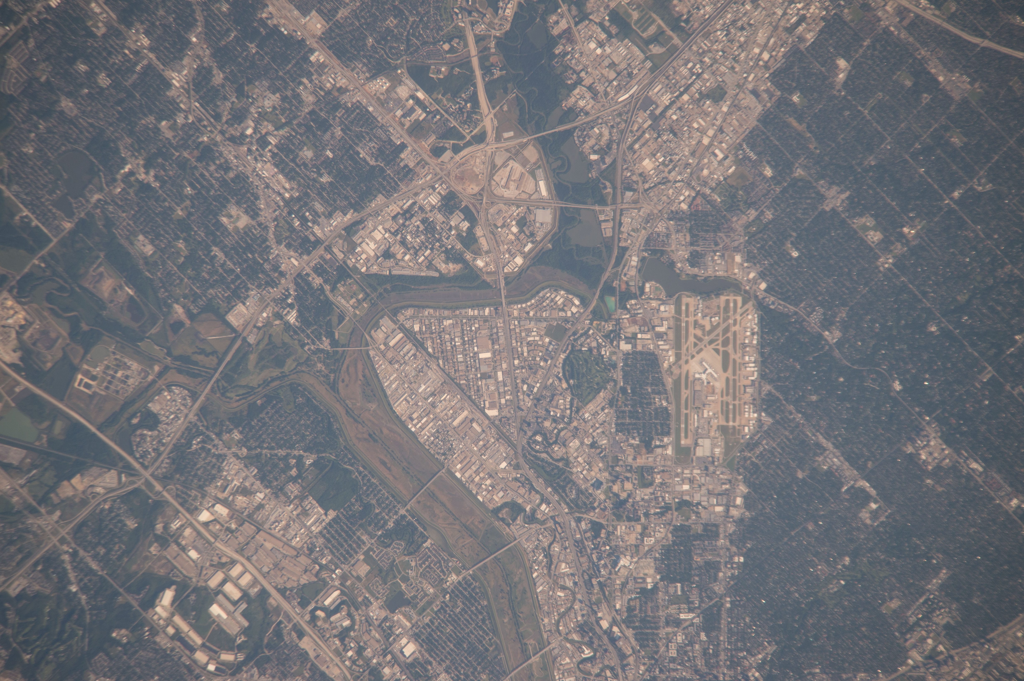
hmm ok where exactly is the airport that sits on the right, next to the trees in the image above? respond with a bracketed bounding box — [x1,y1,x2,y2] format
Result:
[671,292,759,466]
